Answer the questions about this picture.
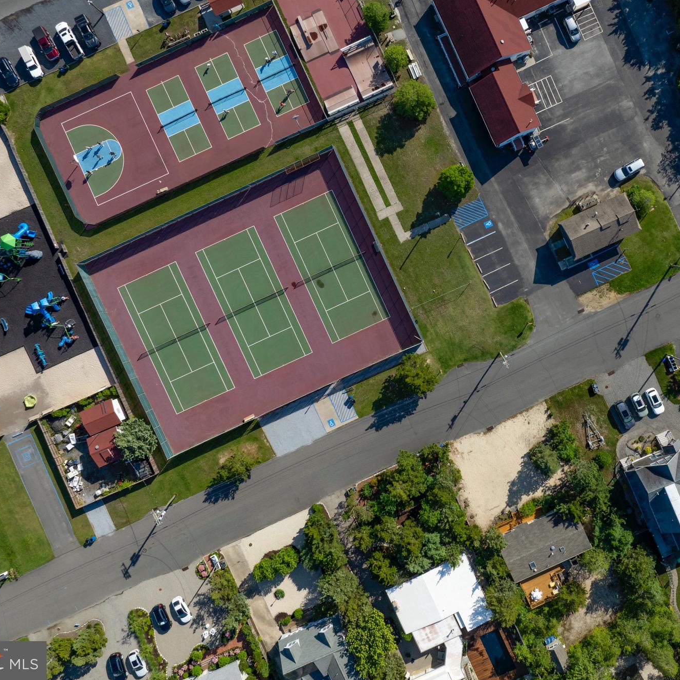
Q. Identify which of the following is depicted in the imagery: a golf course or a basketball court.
basketball court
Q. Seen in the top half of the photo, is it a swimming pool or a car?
car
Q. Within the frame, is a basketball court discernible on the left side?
Yes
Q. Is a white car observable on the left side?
Yes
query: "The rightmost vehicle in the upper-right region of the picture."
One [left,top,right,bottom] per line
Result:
[614,160,643,181]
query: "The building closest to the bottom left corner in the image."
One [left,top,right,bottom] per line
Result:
[195,653,254,680]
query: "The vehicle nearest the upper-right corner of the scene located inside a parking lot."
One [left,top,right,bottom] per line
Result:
[560,14,582,44]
